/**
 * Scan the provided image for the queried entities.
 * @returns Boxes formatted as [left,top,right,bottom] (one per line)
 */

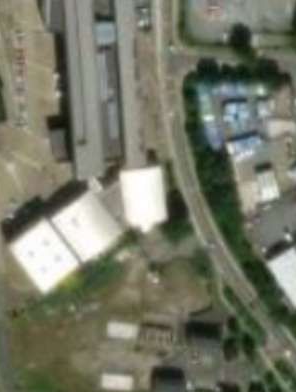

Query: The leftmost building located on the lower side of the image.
[9,216,81,292]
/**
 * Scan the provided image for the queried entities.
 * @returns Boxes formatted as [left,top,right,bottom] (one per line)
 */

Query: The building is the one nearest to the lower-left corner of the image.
[102,374,133,388]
